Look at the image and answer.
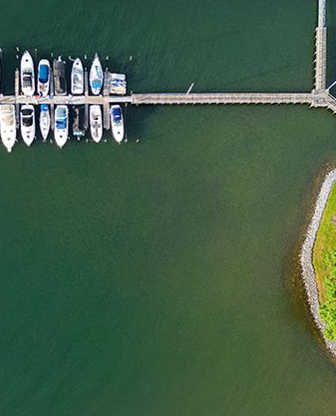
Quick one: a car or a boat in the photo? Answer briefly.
boat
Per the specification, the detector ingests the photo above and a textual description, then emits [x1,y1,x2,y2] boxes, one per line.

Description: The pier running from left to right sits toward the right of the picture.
[132,25,336,117]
